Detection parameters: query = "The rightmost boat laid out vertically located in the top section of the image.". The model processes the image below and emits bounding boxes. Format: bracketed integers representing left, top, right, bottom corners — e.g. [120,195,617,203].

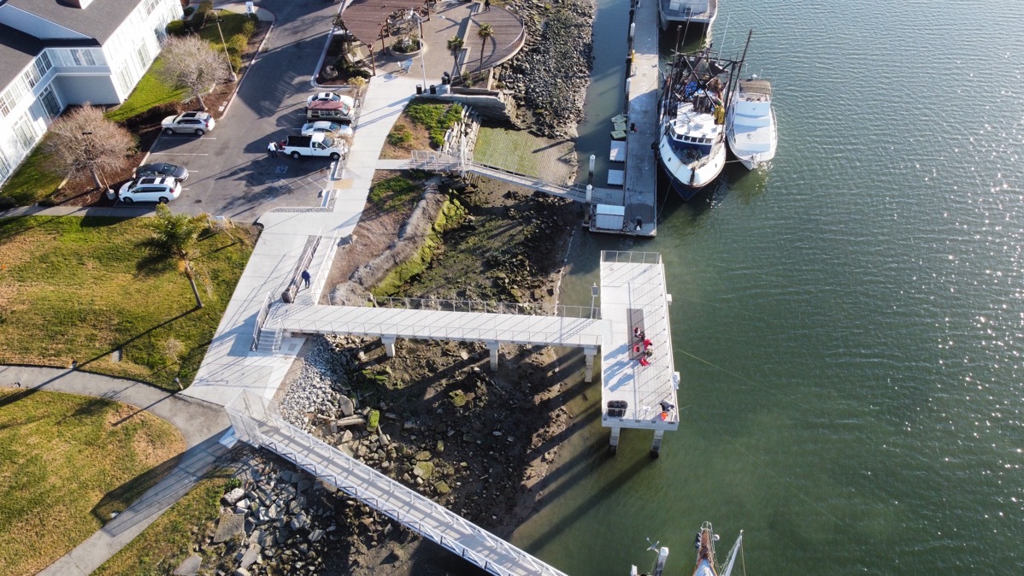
[723,59,777,176]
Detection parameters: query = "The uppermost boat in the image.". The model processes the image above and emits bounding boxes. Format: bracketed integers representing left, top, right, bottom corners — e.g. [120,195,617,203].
[661,0,717,38]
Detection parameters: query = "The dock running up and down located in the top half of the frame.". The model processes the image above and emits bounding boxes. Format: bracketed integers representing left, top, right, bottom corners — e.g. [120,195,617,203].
[588,0,659,240]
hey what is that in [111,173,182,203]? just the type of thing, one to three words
car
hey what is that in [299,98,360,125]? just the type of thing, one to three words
vehicle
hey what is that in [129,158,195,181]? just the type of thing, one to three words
car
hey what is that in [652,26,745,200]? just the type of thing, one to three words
boat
